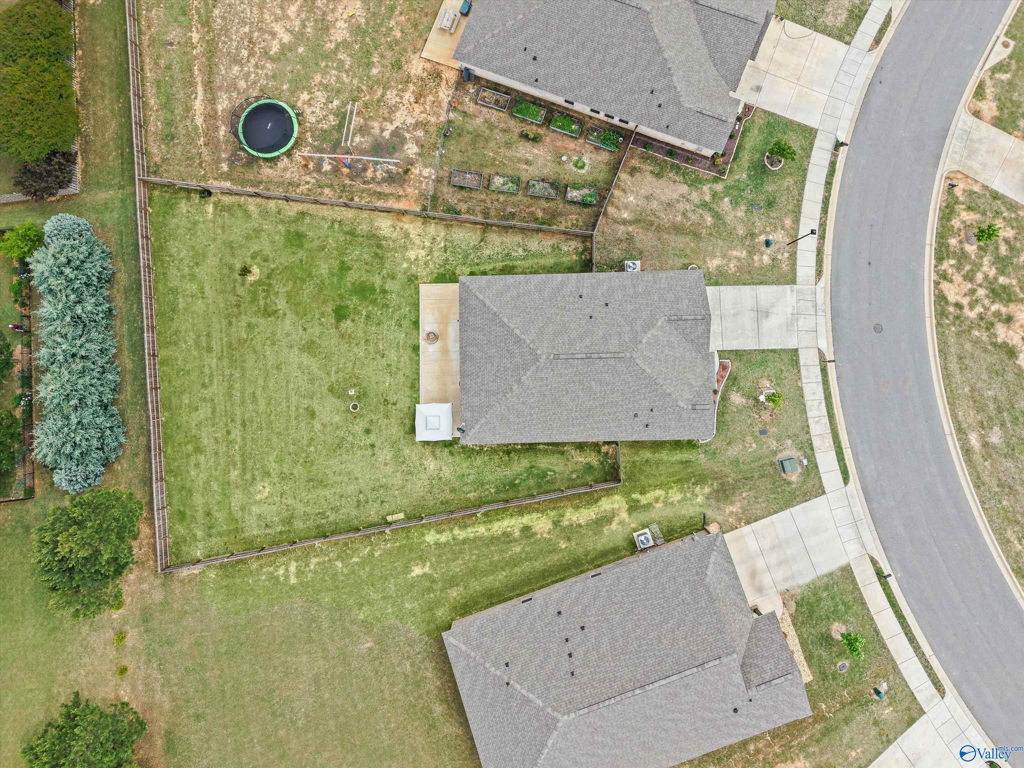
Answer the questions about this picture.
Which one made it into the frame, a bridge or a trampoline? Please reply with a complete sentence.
The image shows a trampoline.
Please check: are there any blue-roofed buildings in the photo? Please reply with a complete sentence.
No, no blue-roofed building is visible in the view.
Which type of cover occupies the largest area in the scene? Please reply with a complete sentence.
The scene is dominated by grass.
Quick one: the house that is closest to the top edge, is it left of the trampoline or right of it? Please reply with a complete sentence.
It is on the right side of the trampoline that the house that is closest to the top edge is positioned.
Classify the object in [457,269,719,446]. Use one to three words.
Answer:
house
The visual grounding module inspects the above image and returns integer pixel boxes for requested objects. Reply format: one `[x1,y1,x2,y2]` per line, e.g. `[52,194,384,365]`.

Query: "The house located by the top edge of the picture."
[452,0,773,157]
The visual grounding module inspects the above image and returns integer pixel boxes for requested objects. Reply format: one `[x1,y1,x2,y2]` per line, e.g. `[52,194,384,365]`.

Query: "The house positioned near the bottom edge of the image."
[440,514,813,768]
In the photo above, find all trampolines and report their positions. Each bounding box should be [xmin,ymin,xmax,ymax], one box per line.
[230,89,303,161]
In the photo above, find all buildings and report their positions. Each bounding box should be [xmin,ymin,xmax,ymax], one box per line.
[440,514,813,768]
[452,0,773,157]
[457,269,719,446]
